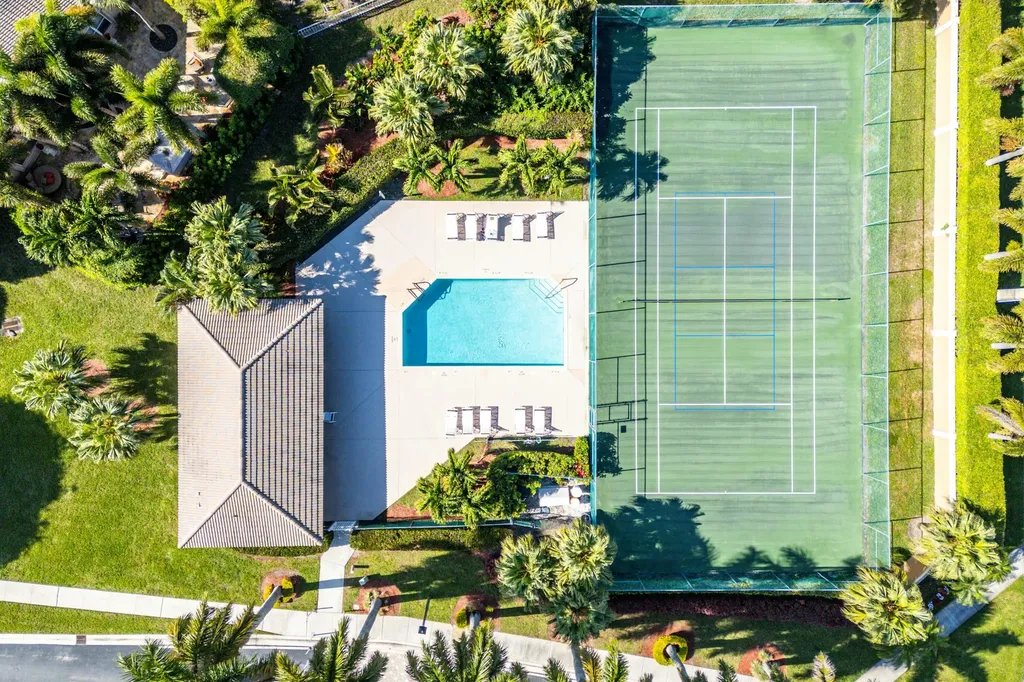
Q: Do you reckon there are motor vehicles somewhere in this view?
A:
No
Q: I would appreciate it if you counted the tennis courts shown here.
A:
1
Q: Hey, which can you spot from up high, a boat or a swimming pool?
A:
swimming pool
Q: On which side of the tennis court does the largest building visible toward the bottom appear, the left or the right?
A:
on its left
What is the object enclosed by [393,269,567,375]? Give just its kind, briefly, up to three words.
swimming pool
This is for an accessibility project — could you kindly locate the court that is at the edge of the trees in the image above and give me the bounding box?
[590,24,869,574]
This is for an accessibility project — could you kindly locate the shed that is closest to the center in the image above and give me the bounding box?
[539,485,570,507]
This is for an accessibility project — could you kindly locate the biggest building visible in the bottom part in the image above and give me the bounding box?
[175,297,325,550]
